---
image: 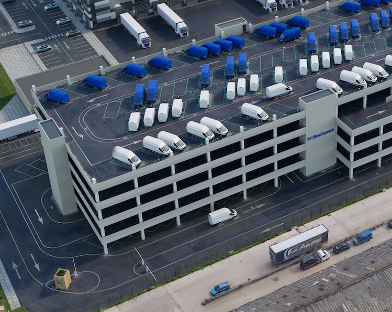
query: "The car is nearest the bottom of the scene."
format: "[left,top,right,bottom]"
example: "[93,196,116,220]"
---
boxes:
[209,281,230,297]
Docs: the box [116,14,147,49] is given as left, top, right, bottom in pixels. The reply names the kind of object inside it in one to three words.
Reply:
truck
